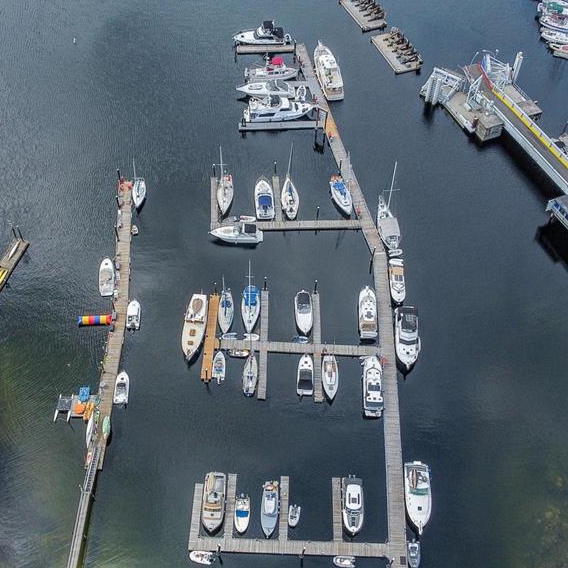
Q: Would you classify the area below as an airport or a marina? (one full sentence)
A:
What you see here is a marina.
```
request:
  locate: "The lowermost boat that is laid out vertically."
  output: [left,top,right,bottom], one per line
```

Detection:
[407,538,420,568]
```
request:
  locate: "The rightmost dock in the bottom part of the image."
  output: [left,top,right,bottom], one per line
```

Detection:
[372,253,409,568]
